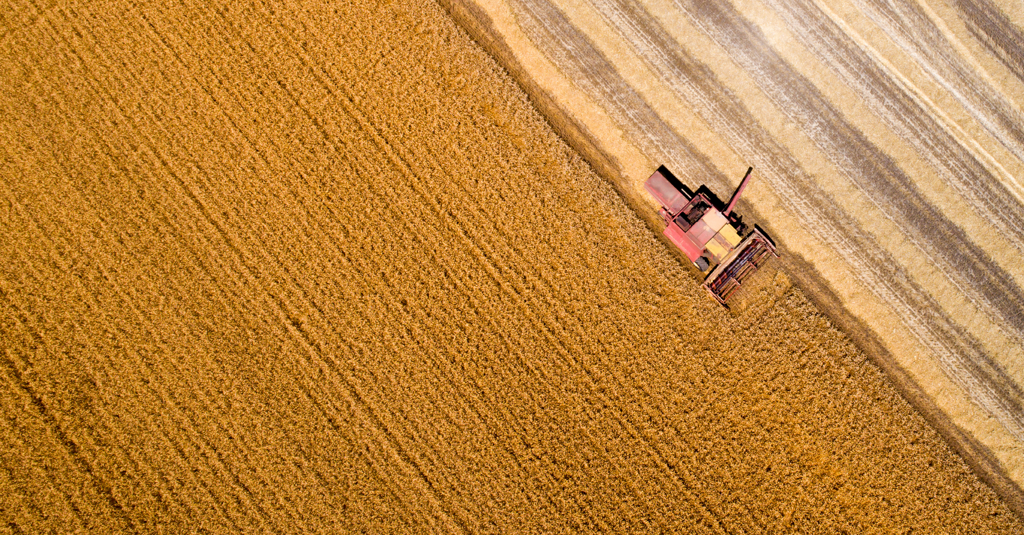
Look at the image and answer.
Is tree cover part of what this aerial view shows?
No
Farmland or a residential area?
farmland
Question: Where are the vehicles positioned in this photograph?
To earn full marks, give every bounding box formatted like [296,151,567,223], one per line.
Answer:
[642,171,782,311]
